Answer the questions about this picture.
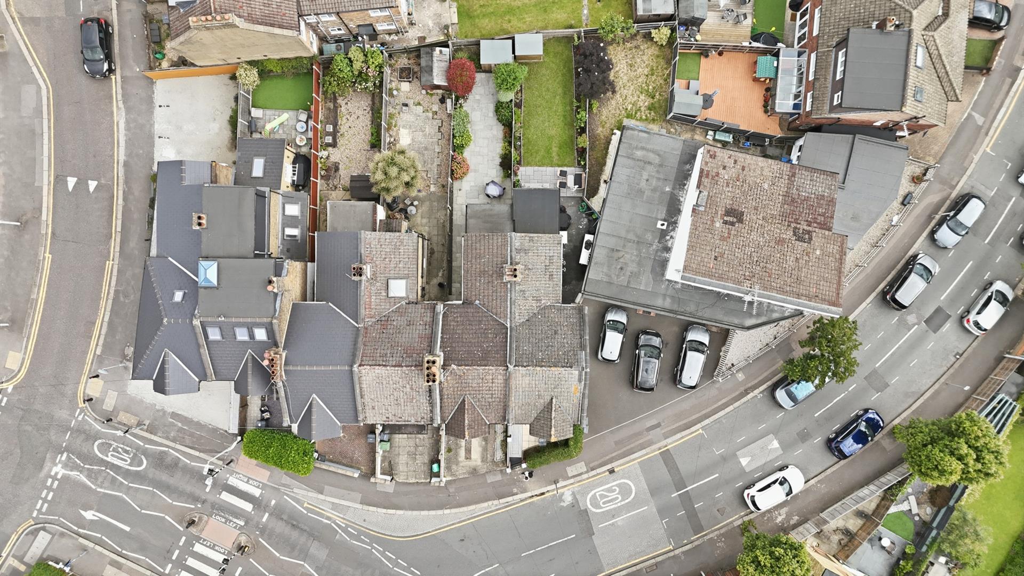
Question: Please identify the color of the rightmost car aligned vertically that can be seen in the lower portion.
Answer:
white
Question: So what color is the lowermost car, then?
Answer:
white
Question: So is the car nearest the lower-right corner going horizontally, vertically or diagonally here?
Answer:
diagonally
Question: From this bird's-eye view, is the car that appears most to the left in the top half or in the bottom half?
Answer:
top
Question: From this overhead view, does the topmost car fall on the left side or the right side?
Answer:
right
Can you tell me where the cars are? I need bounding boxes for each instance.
[772,359,830,409]
[675,324,712,392]
[631,330,665,394]
[961,281,1014,339]
[597,307,628,365]
[743,465,804,513]
[825,407,886,462]
[80,17,115,80]
[968,0,1013,30]
[932,190,986,248]
[882,254,938,312]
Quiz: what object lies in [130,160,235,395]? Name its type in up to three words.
house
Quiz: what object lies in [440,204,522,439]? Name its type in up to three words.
house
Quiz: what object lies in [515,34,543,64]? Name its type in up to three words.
shed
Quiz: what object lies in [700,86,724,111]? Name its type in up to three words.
umbrella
